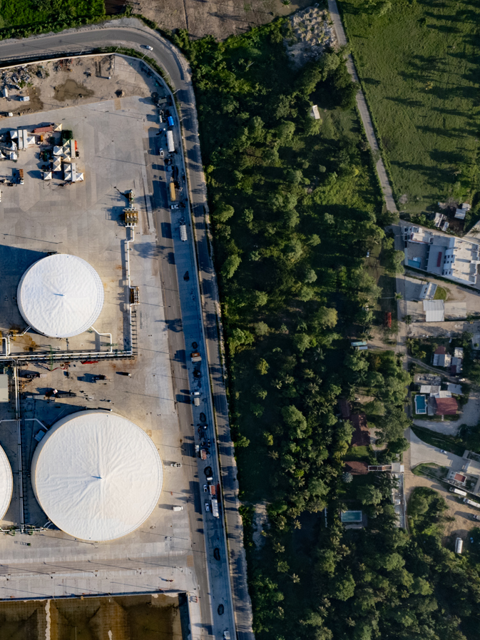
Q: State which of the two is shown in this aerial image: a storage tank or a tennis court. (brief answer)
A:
storage tank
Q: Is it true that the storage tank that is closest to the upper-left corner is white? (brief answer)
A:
Yes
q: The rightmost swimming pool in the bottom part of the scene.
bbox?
[413,394,427,415]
